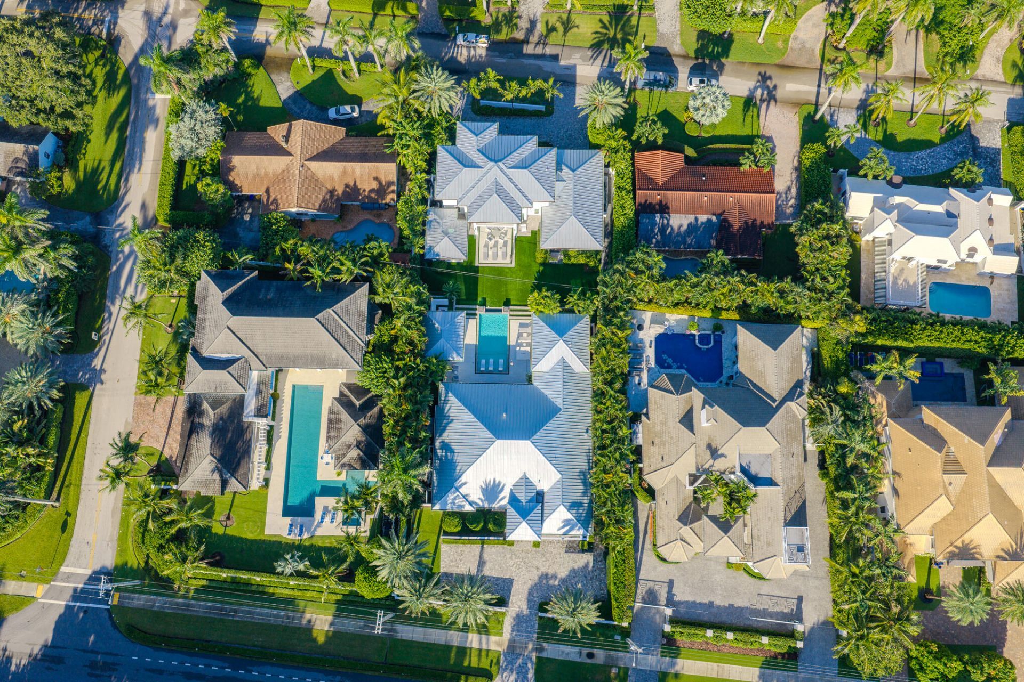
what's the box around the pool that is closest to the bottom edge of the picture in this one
[340,515,363,529]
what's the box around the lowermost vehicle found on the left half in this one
[328,104,359,120]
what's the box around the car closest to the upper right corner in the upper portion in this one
[689,76,719,91]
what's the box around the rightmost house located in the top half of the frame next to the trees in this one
[839,171,1020,308]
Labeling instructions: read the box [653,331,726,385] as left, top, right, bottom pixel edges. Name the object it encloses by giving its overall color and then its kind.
blue swimming pool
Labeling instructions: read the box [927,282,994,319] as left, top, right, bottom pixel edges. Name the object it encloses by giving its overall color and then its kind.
blue swimming pool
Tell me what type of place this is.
residential area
